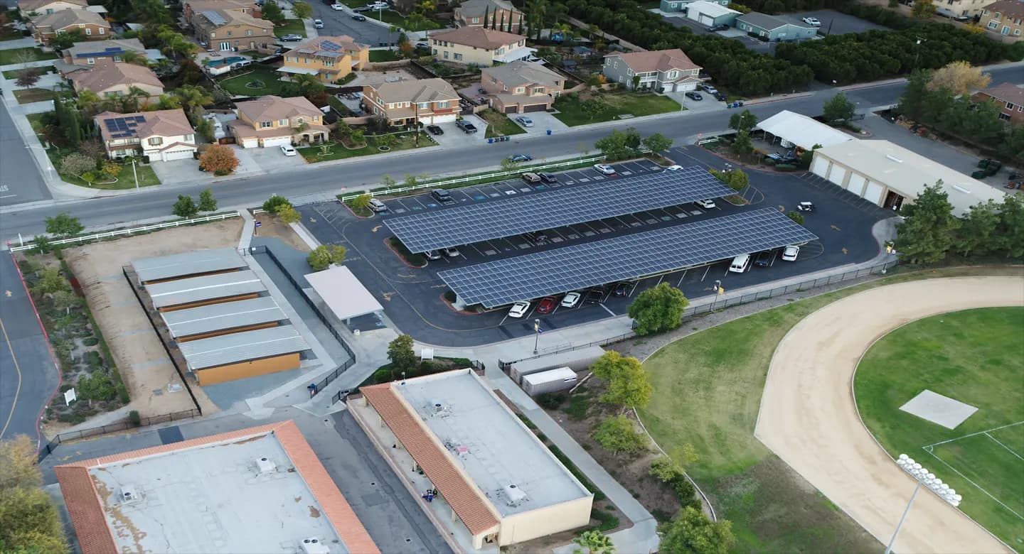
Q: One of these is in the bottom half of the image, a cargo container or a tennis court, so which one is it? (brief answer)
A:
cargo container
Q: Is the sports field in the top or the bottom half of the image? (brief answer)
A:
bottom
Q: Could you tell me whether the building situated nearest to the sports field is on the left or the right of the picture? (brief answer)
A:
right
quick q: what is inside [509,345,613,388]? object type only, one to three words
shipping container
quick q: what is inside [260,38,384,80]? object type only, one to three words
house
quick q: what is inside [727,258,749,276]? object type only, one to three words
vehicle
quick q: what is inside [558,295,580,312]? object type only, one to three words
car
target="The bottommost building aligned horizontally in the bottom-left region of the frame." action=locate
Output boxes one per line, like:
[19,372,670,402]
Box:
[55,417,381,554]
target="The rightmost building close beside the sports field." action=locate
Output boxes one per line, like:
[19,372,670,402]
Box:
[808,137,1024,244]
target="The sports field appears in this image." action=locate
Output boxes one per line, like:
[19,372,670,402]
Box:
[853,306,1024,554]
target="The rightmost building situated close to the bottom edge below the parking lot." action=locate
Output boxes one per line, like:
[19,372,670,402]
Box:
[357,367,594,554]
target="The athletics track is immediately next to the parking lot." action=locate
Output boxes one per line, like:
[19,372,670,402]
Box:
[755,276,1024,554]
